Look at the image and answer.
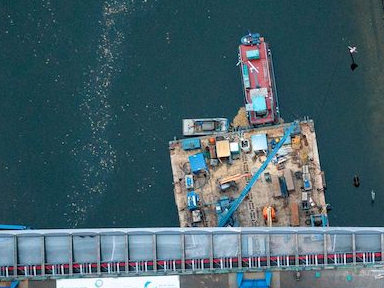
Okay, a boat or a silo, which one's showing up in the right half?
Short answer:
boat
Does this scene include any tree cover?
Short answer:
No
